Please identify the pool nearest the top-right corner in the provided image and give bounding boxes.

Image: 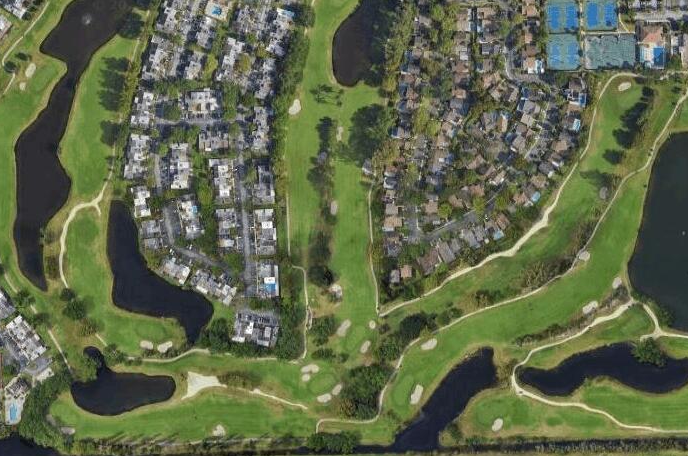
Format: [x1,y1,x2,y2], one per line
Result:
[640,44,666,68]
